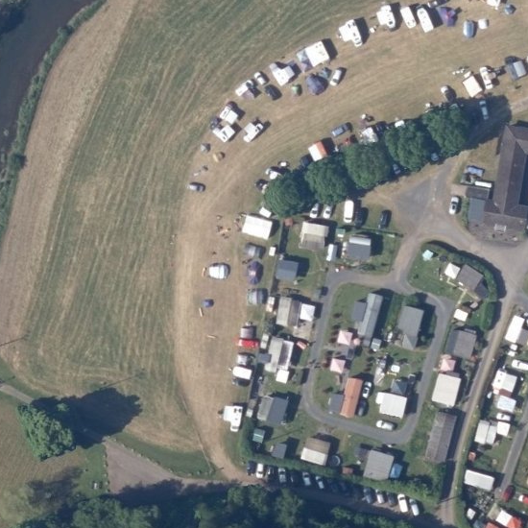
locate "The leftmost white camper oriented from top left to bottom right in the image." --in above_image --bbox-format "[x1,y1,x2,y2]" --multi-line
[213,125,232,143]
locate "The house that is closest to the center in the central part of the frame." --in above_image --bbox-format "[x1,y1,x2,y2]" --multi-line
[275,259,299,281]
